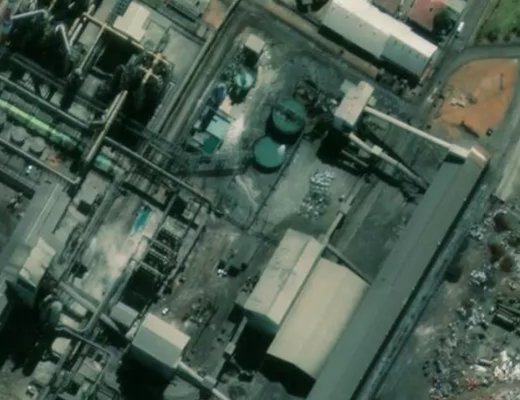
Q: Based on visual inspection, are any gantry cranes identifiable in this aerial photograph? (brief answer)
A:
No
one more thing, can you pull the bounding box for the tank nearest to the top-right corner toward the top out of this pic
[272,100,306,136]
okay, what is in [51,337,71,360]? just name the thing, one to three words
shed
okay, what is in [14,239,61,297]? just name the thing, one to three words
house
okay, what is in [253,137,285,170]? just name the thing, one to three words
storage tank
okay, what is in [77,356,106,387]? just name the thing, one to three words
building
